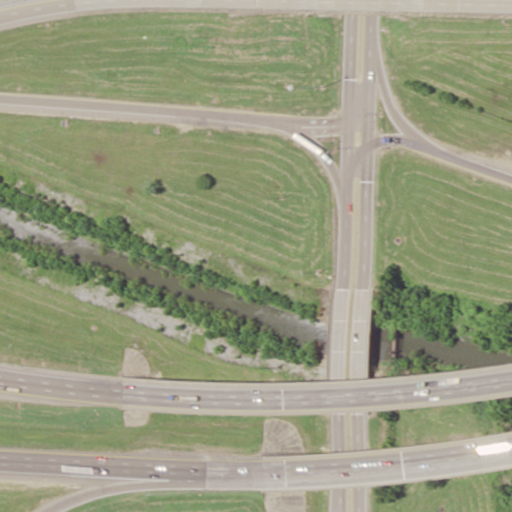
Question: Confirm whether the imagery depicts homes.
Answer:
No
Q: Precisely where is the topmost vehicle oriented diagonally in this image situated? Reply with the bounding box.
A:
[294,134,332,164]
